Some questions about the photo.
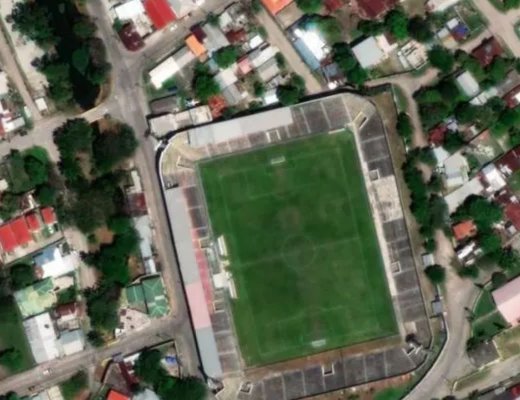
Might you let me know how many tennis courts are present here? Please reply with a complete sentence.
The photo contains no tennis courts.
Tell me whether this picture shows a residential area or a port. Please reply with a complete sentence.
This looks like a residential area.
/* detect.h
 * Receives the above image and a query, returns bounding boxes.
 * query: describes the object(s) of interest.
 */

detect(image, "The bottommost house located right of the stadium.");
[471,340,501,370]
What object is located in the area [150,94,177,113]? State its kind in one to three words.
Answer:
shed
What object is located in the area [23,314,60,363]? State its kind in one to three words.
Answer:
building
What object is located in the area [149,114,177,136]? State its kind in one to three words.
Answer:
house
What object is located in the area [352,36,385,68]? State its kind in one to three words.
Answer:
house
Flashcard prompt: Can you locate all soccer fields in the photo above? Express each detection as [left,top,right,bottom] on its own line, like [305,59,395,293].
[199,128,401,366]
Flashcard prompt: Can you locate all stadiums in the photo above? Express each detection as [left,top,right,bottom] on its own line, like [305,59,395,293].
[161,92,433,400]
